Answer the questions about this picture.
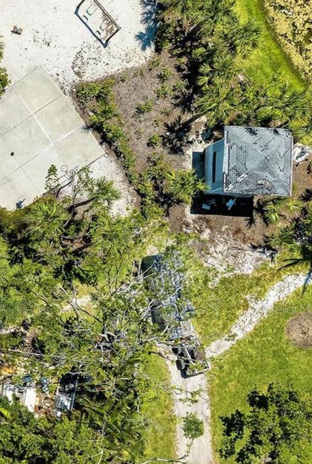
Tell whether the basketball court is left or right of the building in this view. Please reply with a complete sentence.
Relative to the building, the basketball court lies to the left.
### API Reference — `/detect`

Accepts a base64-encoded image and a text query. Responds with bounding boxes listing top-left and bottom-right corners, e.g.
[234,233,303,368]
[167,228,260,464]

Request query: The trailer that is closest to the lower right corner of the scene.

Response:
[166,332,208,378]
